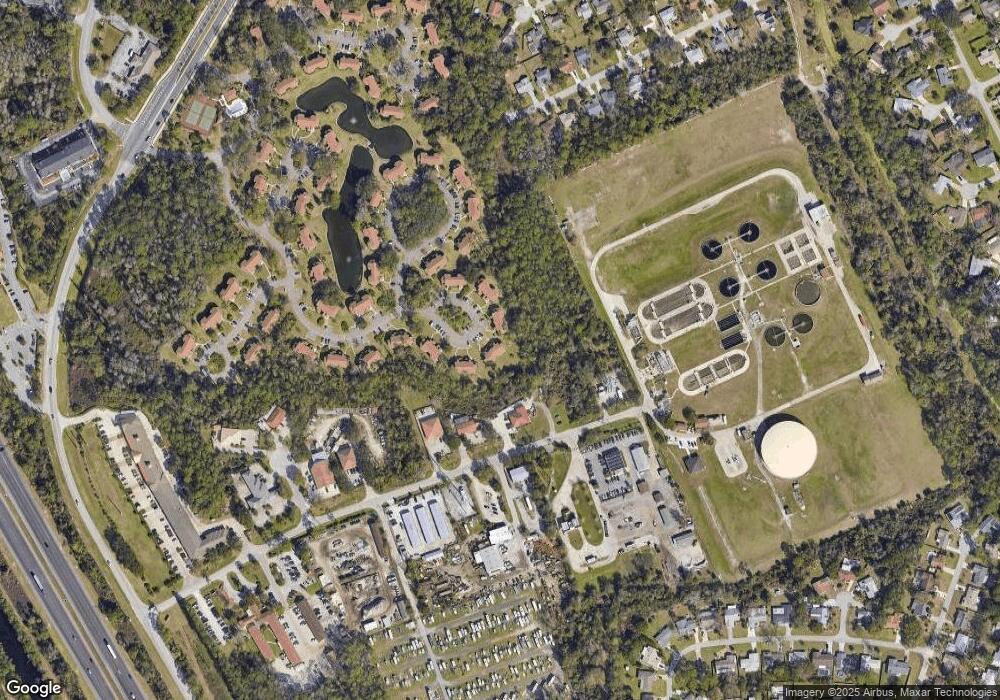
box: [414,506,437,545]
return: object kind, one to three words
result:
shed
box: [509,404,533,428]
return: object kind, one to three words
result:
building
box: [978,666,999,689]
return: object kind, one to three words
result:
house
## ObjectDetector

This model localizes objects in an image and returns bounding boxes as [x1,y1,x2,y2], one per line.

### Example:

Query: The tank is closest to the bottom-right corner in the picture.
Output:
[761,421,818,478]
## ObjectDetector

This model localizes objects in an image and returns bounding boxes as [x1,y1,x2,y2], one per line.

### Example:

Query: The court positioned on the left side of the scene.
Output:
[181,94,219,139]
